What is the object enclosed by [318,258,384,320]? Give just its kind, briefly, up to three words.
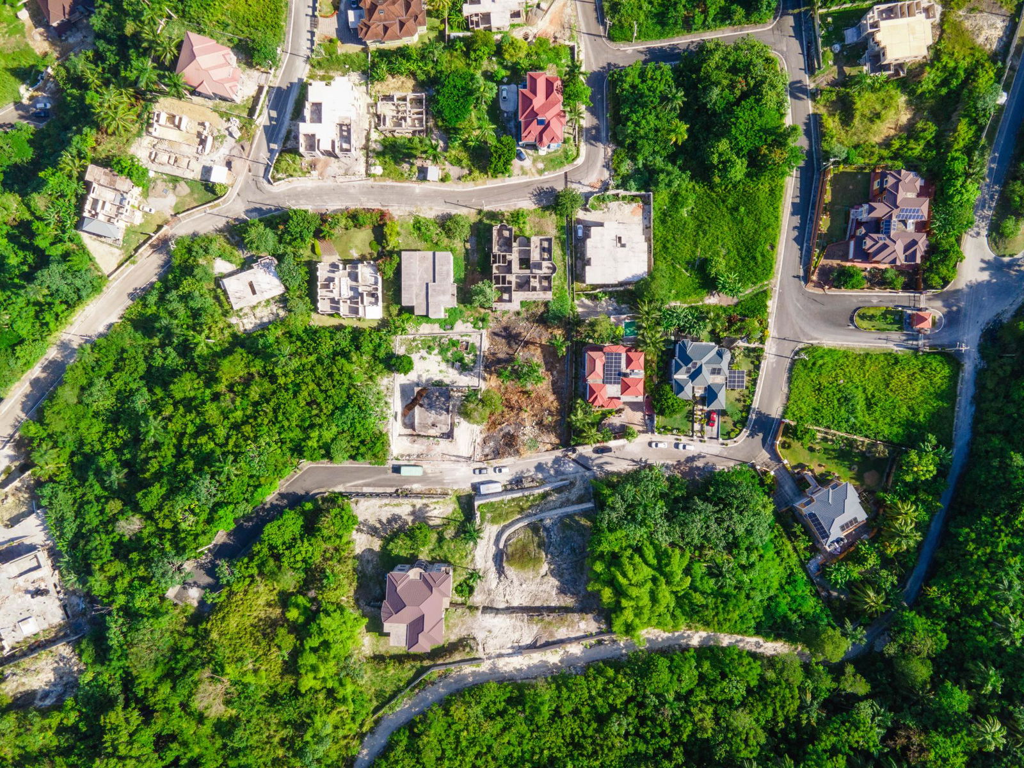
house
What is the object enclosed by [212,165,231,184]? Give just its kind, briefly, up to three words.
shed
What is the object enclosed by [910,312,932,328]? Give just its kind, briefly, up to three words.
building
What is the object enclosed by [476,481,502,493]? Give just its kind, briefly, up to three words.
vehicle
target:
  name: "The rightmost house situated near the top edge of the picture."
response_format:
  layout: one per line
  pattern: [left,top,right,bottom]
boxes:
[854,1,937,86]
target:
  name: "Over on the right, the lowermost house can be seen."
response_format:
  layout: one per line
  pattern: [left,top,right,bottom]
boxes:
[785,477,872,547]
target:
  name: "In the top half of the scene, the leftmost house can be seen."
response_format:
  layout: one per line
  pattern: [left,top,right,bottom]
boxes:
[1,0,85,43]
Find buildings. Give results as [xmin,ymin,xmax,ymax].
[672,342,731,410]
[785,477,872,547]
[401,251,457,318]
[854,1,937,86]
[81,163,157,249]
[212,165,231,184]
[463,0,526,38]
[399,383,455,440]
[910,312,932,328]
[382,561,452,652]
[1,0,85,43]
[577,344,645,409]
[585,220,647,285]
[359,0,427,60]
[519,72,566,158]
[833,168,929,272]
[221,251,291,317]
[0,548,74,645]
[428,166,439,181]
[298,75,364,162]
[318,258,384,320]
[173,30,266,113]
[491,222,558,312]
